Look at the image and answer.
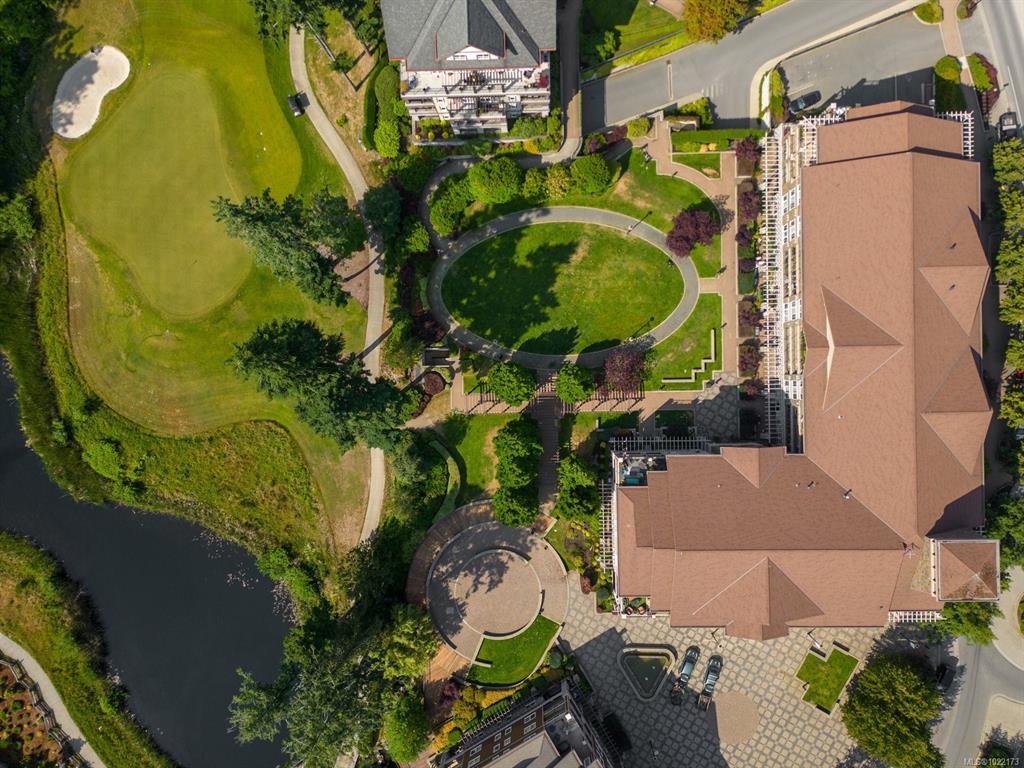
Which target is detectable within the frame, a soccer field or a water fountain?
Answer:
water fountain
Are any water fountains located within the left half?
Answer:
No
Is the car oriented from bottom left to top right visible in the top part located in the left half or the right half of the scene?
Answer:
right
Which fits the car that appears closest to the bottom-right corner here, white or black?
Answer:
black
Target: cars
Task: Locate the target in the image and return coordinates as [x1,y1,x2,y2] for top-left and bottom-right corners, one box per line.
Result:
[703,657,725,698]
[1000,108,1024,146]
[939,657,963,693]
[679,647,701,688]
[788,84,825,113]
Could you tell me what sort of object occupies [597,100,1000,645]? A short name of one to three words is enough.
building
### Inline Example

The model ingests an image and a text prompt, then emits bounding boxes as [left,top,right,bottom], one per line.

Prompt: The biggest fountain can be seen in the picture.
[617,642,680,706]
